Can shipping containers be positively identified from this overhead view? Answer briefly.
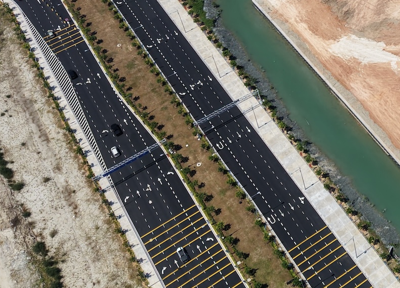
No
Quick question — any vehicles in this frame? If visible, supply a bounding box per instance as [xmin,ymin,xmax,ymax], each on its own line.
[110,146,120,156]
[69,68,77,79]
[112,124,122,135]
[176,246,189,263]
[46,28,55,37]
